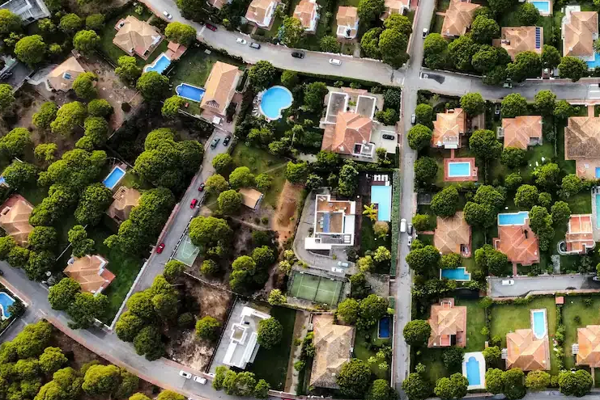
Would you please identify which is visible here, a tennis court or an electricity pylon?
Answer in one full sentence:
The image shows a tennis court.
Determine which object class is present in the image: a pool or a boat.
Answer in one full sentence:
The image shows a pool.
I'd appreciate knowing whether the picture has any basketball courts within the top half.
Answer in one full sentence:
No, the scene shows no basketball court within the top half.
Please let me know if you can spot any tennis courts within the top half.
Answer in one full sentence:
No, within the top half there is no tennis court.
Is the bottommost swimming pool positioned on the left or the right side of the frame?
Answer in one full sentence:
The bottommost swimming pool appears in the right half of the scene.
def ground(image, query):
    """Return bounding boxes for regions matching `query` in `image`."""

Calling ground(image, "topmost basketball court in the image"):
[173,236,202,267]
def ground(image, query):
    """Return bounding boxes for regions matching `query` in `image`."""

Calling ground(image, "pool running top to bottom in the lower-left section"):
[0,289,16,322]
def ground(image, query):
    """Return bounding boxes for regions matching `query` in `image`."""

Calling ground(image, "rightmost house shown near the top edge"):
[561,3,598,63]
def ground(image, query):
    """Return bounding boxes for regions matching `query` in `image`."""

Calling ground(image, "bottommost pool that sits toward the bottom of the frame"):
[461,350,487,392]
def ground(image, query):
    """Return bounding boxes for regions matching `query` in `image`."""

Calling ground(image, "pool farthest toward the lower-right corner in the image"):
[531,308,549,331]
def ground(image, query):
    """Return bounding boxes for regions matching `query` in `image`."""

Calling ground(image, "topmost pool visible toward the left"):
[140,48,175,72]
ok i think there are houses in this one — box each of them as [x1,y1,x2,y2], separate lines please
[433,108,467,150]
[496,117,542,152]
[561,3,598,63]
[304,194,359,250]
[307,312,359,392]
[430,298,467,343]
[564,119,600,160]
[384,0,419,17]
[0,192,32,248]
[43,57,91,99]
[244,0,286,33]
[336,5,360,40]
[198,61,243,126]
[501,324,550,372]
[238,191,262,208]
[493,228,539,266]
[323,91,380,166]
[573,323,600,366]
[291,0,326,38]
[67,255,121,293]
[493,24,543,60]
[114,15,166,63]
[434,210,472,256]
[438,0,485,41]
[220,302,277,372]
[109,184,135,222]
[558,215,595,255]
